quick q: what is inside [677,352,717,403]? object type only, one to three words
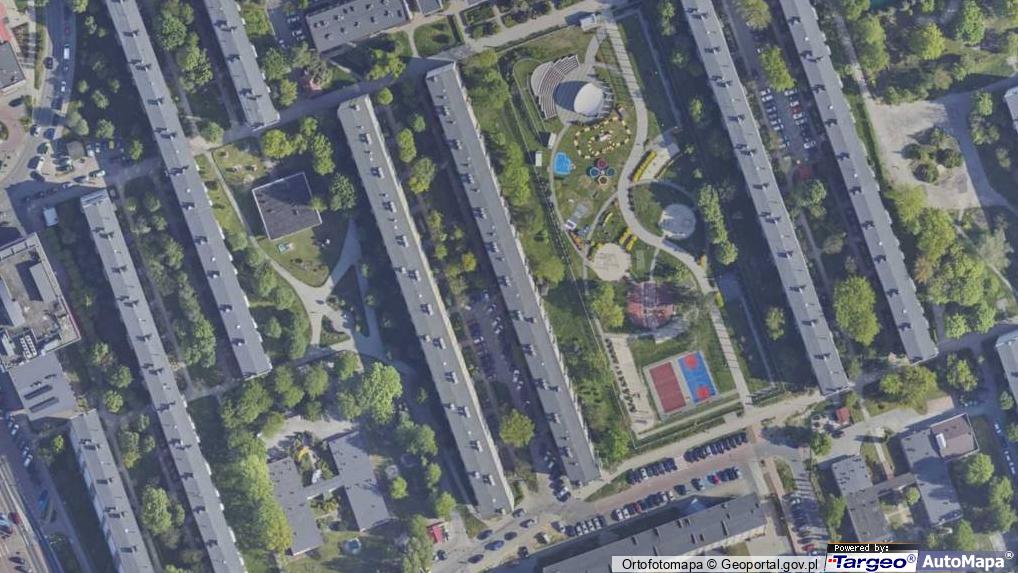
basketball court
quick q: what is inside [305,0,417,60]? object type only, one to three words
building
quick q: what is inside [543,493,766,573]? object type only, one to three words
building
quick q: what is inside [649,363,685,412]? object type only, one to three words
sports court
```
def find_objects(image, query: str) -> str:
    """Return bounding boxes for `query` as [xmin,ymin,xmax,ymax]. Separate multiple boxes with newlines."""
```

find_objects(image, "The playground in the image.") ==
[627,282,672,331]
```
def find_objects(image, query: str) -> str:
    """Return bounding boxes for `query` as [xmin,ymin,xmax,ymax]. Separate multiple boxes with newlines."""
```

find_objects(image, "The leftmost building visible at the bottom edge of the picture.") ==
[71,407,158,573]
